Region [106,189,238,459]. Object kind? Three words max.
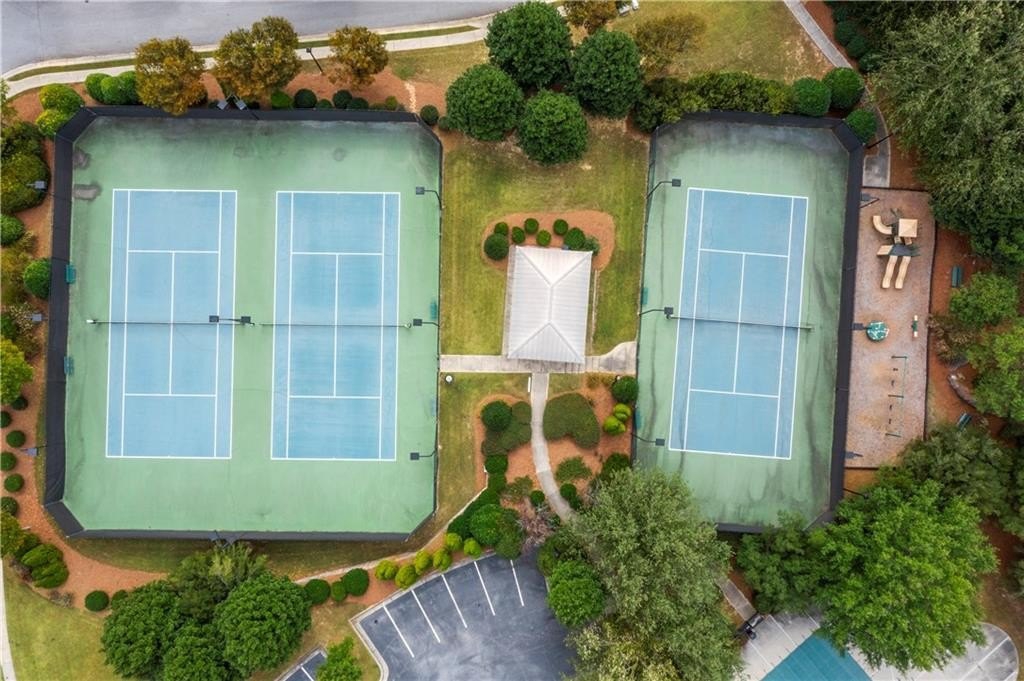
tennis court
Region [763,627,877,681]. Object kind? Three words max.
swimming pool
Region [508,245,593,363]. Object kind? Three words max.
building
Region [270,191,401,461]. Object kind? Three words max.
tennis court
